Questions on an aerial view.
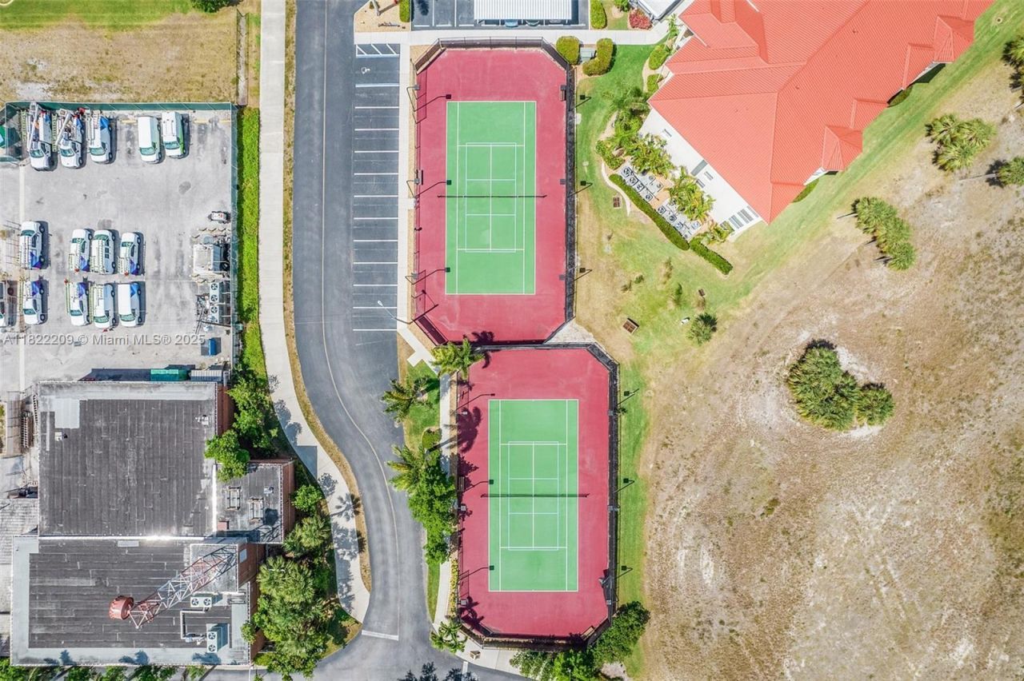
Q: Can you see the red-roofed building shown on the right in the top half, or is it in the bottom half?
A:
top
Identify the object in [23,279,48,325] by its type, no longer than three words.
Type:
vehicle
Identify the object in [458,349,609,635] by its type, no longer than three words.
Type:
tennis court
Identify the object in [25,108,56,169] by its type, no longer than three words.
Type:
truck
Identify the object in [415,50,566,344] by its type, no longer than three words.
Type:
tennis court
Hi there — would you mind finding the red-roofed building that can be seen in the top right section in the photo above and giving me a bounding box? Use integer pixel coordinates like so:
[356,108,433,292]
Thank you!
[639,0,995,230]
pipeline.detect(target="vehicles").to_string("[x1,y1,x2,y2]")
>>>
[161,110,185,160]
[67,281,92,326]
[23,279,48,325]
[524,21,539,30]
[89,114,114,165]
[68,228,93,273]
[90,229,116,275]
[504,21,520,30]
[548,21,563,30]
[25,108,56,169]
[91,282,117,329]
[138,114,163,165]
[118,232,142,277]
[23,223,49,268]
[480,21,495,30]
[56,110,85,171]
[118,281,143,329]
